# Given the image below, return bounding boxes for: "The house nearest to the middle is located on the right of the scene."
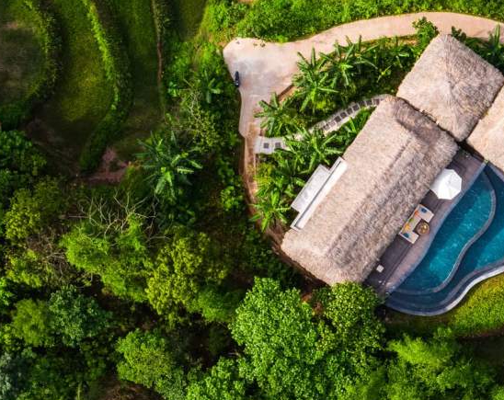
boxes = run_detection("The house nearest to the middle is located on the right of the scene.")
[287,101,455,290]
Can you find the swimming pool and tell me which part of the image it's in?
right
